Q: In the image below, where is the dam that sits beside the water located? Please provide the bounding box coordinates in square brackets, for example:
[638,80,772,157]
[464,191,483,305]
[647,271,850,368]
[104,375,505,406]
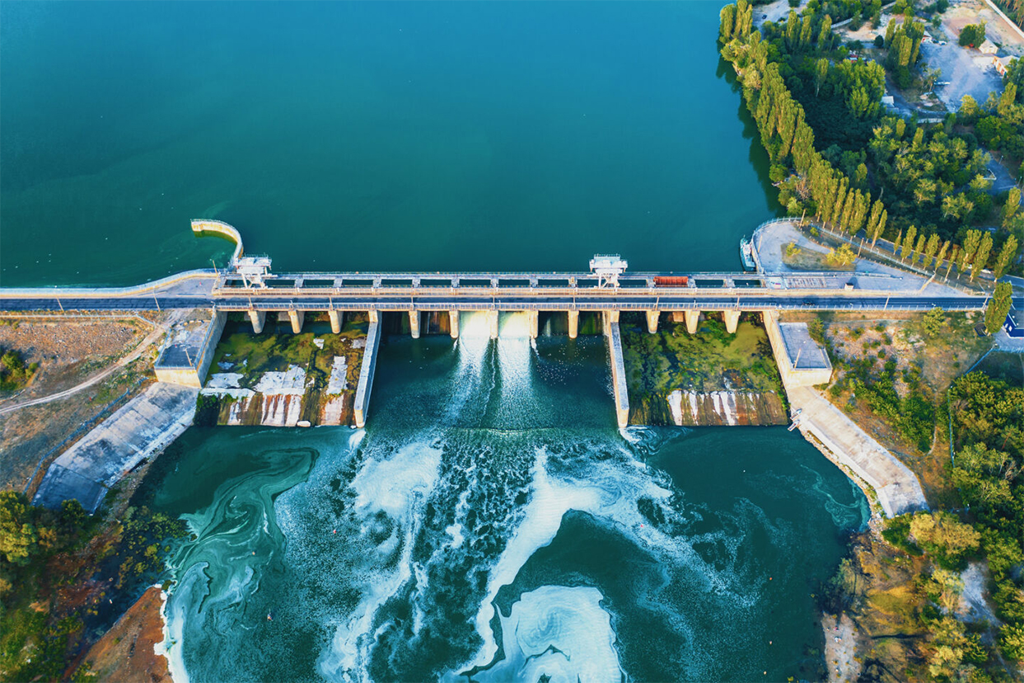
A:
[193,272,924,428]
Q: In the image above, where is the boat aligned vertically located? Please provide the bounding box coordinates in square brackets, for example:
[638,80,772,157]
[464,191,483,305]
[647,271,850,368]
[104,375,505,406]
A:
[740,234,756,271]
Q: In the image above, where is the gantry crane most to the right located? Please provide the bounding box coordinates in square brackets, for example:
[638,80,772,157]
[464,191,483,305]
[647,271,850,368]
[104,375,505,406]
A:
[589,249,630,288]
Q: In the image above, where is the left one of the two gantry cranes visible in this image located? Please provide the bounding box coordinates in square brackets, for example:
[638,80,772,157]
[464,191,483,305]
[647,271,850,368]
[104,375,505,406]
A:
[229,249,274,288]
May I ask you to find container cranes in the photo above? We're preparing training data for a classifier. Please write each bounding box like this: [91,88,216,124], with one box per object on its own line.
[589,249,630,288]
[229,249,274,288]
